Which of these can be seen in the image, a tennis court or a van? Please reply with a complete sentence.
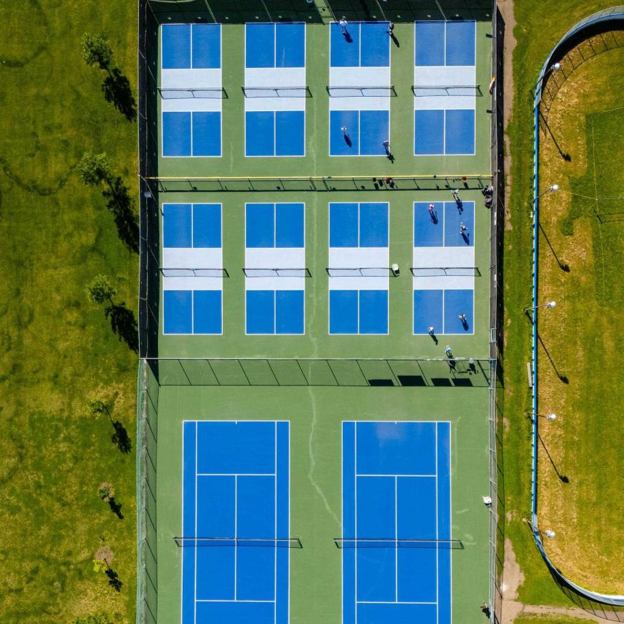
The image shows a tennis court.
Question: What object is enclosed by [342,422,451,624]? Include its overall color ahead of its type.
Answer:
blue tennis court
